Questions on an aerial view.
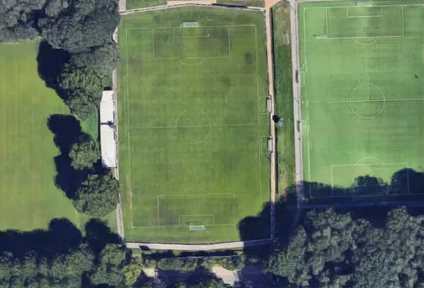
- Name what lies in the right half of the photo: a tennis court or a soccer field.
soccer field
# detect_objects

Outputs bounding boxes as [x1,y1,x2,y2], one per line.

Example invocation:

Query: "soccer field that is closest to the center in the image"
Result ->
[118,4,272,245]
